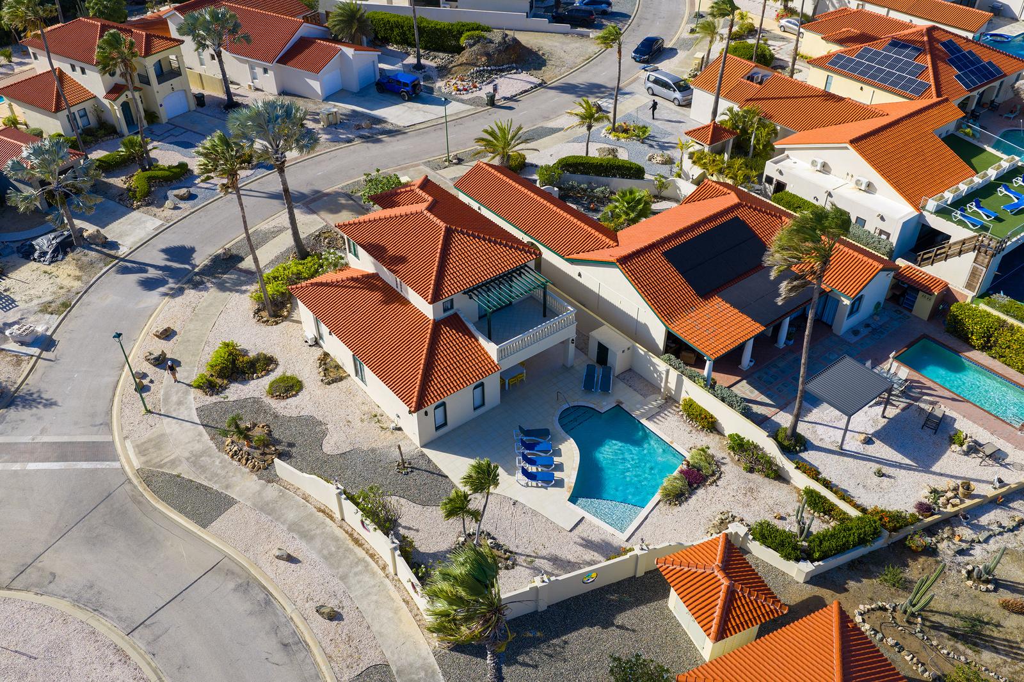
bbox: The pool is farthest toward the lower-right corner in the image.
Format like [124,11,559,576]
[888,330,1024,433]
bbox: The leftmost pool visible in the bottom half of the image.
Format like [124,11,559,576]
[552,391,693,541]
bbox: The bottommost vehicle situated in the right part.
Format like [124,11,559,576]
[640,64,695,106]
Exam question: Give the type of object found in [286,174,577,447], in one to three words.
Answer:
house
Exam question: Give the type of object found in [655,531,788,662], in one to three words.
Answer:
shed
